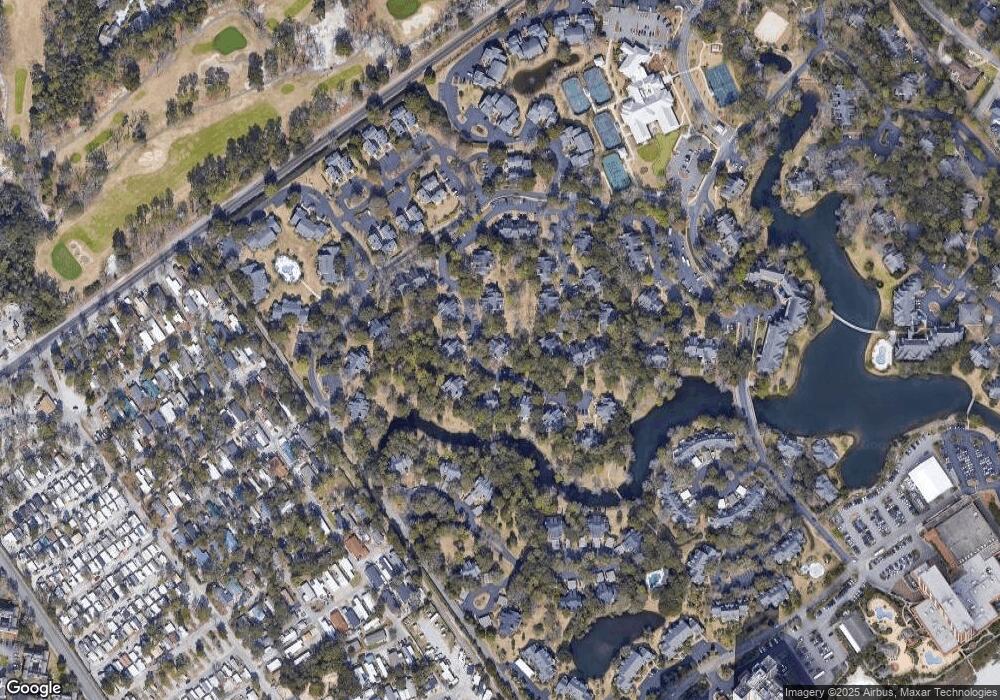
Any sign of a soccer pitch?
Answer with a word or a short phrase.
No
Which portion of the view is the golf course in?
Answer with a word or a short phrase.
top left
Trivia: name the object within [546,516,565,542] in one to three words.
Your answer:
house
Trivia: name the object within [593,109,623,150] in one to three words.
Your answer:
tennis court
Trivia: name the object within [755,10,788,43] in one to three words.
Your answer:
sports court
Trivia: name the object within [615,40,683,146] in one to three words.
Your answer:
building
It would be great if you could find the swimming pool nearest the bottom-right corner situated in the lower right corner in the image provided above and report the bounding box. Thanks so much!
[924,651,943,665]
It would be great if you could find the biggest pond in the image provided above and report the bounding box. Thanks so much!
[572,612,663,679]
